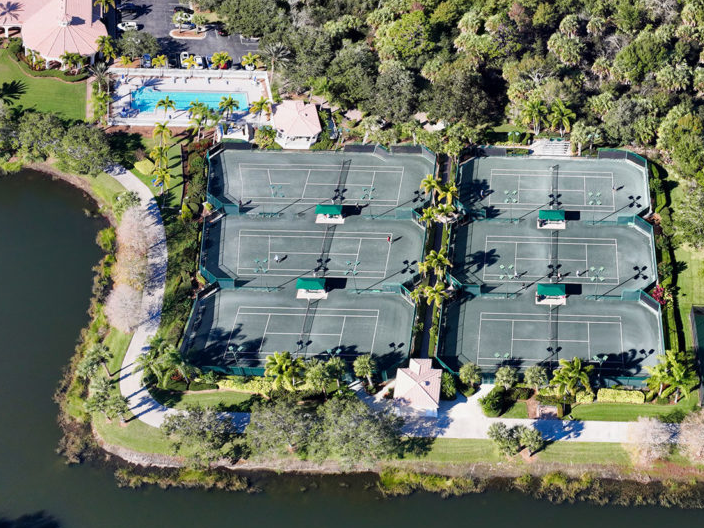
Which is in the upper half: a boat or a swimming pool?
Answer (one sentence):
What appears in the upper half is a swimming pool.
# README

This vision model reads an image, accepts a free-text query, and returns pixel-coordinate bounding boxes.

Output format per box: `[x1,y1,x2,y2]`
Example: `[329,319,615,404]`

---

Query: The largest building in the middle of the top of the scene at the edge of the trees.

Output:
[270,98,323,151]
